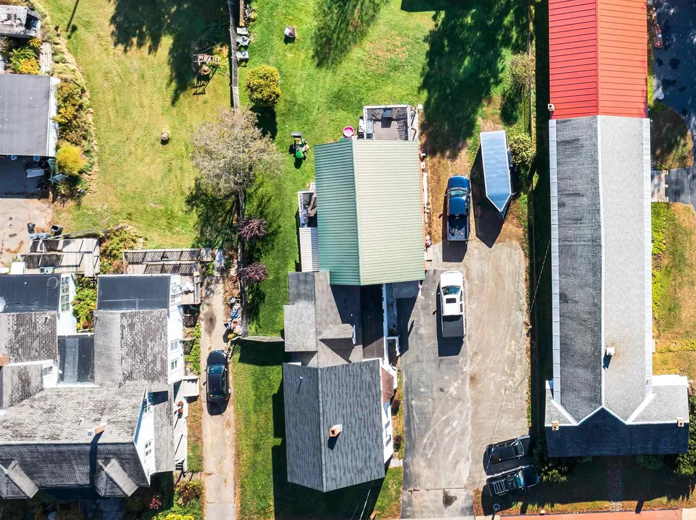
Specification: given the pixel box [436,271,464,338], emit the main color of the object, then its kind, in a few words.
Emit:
white truck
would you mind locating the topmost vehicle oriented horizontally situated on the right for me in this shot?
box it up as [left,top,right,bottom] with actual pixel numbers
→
[480,433,534,464]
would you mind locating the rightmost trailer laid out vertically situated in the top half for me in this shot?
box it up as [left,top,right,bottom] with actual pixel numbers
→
[480,129,514,225]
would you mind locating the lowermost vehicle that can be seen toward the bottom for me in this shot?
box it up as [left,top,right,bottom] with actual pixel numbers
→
[487,464,540,498]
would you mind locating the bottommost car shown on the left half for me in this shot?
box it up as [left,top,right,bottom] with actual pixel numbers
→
[203,349,232,404]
